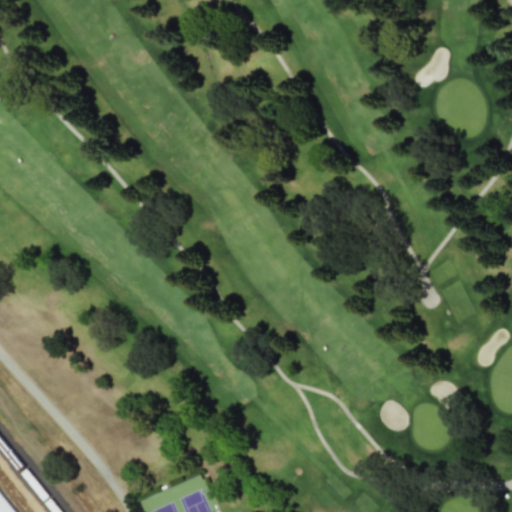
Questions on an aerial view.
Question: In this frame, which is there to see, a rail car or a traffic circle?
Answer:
rail car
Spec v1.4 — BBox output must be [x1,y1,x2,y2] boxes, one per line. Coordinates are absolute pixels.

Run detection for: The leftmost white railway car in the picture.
[0,431,28,470]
